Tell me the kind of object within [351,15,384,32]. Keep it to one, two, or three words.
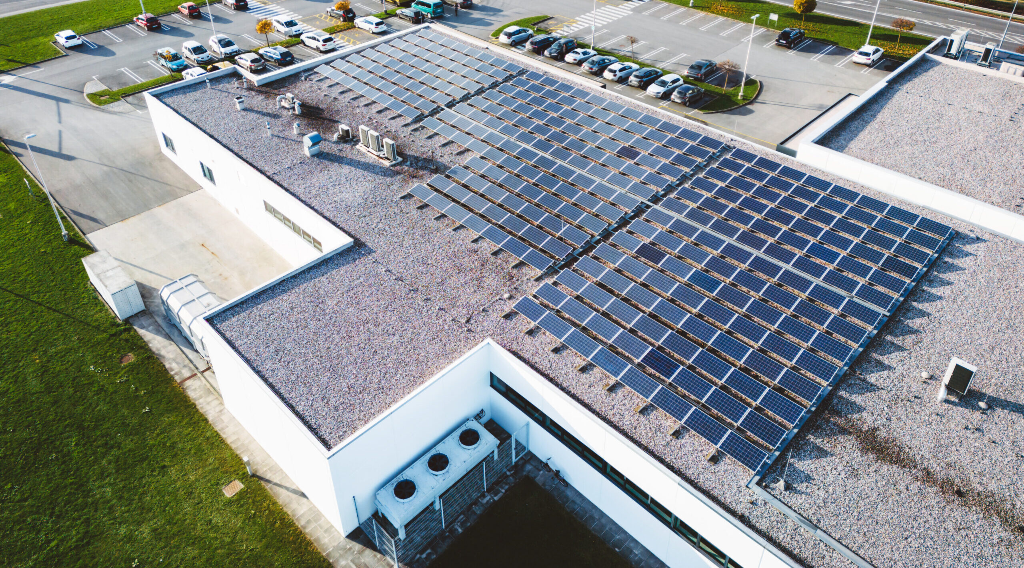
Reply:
car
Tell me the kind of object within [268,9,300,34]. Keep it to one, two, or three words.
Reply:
vehicle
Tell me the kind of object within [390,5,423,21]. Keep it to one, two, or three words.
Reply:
car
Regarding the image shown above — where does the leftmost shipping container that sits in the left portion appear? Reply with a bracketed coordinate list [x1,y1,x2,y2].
[82,247,145,322]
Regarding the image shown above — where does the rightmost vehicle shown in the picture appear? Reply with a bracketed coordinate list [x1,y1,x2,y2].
[856,42,889,64]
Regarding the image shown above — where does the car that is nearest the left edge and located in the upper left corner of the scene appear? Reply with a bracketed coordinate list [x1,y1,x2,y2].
[54,29,79,46]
